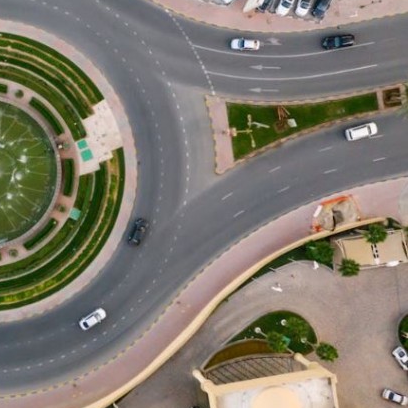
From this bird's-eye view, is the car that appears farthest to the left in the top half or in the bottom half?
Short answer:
bottom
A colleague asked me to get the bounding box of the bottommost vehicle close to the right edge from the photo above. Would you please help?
[377,385,408,407]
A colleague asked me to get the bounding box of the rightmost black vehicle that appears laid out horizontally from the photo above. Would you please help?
[320,34,355,49]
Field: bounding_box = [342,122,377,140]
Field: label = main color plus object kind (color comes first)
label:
white car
